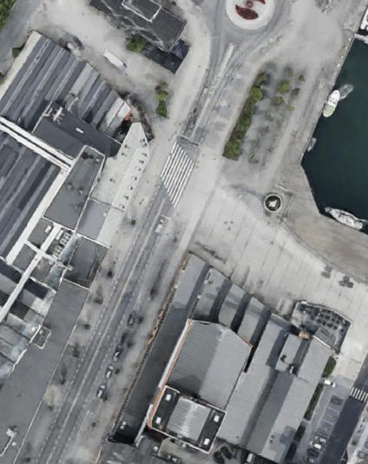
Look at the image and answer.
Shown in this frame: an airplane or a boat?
boat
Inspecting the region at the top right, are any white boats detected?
Yes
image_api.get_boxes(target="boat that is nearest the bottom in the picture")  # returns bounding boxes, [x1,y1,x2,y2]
[326,207,365,230]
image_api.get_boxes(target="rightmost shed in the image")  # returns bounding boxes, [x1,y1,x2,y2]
[223,312,332,454]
